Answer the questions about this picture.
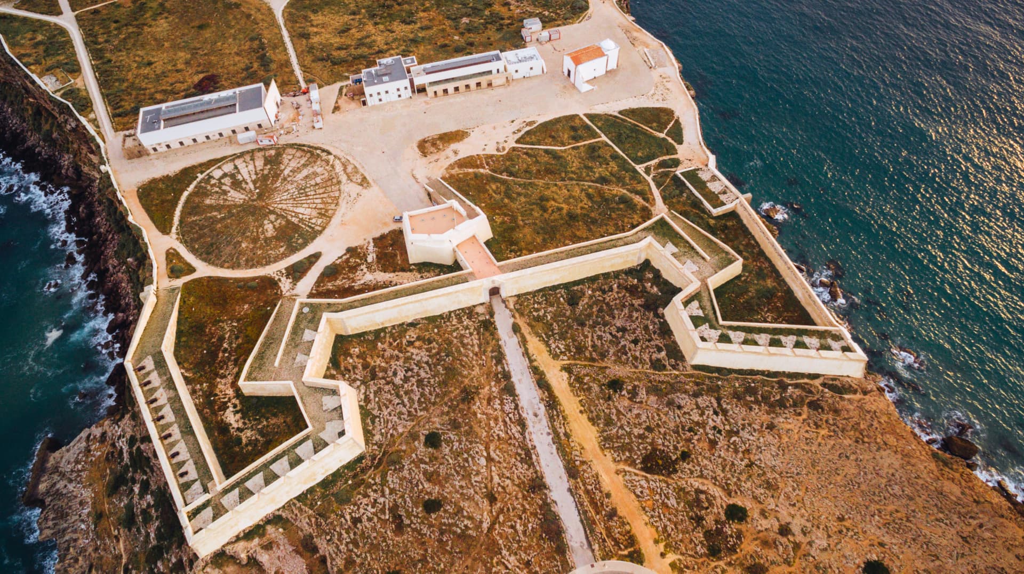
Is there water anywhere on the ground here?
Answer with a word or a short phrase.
Yes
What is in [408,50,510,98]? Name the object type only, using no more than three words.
building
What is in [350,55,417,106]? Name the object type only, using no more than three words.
house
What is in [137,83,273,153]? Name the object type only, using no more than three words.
building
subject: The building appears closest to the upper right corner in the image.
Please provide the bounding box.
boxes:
[562,39,619,87]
